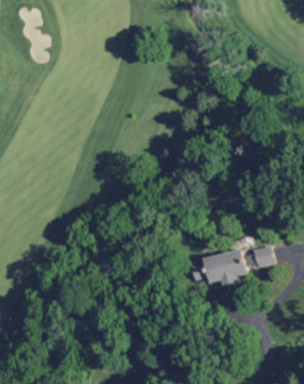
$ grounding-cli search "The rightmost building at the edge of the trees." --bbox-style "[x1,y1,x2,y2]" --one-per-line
[254,246,277,268]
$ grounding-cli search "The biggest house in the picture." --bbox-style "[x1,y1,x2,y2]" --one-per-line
[202,252,249,284]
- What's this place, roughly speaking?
golf course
